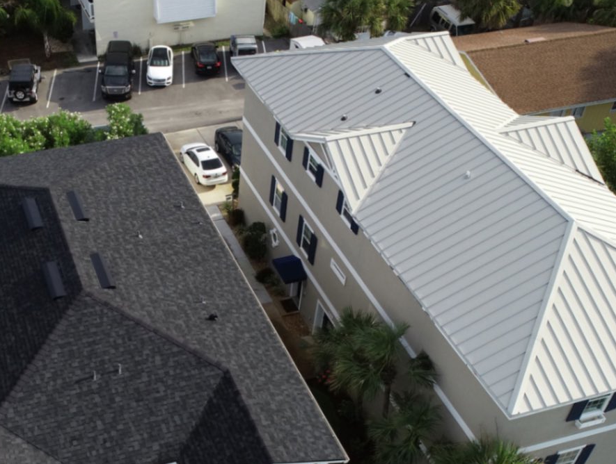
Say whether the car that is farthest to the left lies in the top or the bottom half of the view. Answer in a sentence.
The car that is farthest to the left sits in the top half of the picture.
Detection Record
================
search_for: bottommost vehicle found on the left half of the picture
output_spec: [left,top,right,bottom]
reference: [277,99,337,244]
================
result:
[181,146,231,193]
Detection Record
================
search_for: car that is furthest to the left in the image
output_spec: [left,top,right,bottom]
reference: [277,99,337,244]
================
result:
[5,64,40,108]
